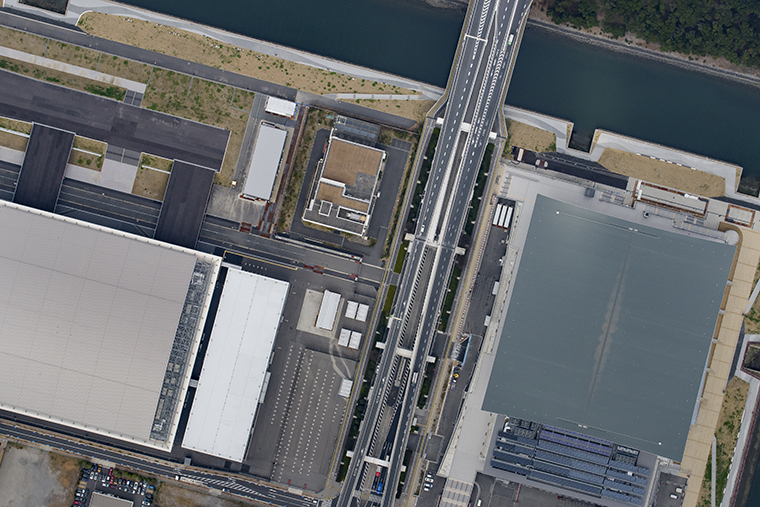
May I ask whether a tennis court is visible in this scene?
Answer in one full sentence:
No, there appears to be no tennis court in this shot.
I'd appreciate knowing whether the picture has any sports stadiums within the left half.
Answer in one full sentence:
No, looking within the left half, there is no sports stadium.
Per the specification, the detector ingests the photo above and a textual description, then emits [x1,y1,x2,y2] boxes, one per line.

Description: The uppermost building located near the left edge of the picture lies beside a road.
[0,201,221,451]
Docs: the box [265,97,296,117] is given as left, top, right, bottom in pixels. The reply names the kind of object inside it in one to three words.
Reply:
shed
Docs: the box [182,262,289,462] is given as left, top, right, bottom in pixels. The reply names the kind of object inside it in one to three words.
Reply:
building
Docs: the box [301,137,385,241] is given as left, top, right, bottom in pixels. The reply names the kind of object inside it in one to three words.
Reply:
building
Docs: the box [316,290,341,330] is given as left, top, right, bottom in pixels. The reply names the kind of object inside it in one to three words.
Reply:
shed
